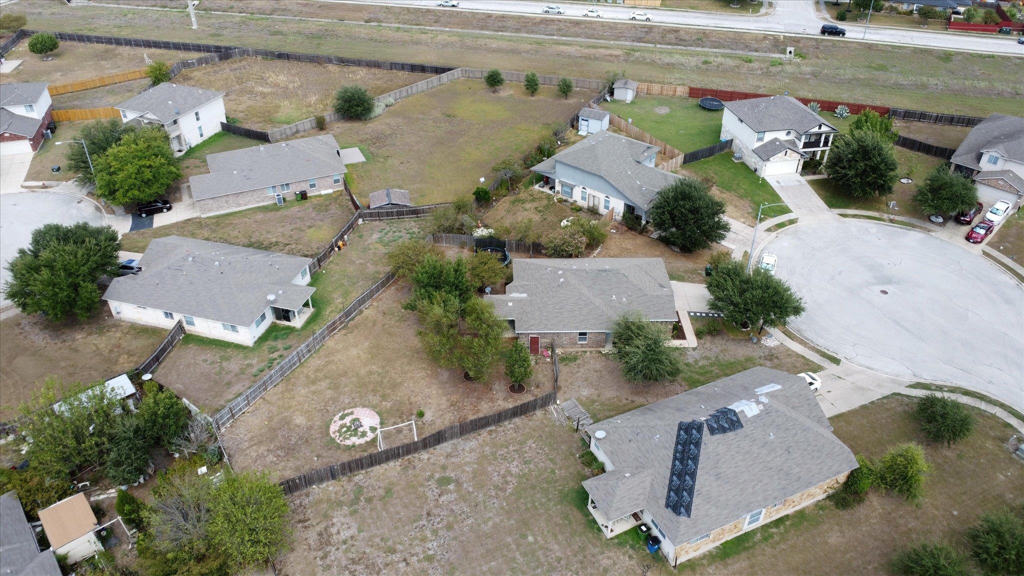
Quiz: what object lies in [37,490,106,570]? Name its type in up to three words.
shed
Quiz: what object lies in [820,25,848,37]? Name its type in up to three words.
vehicle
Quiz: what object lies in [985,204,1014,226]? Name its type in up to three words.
car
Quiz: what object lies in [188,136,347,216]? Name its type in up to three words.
house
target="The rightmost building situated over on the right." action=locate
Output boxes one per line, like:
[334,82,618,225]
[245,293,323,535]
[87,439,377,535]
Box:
[950,113,1024,211]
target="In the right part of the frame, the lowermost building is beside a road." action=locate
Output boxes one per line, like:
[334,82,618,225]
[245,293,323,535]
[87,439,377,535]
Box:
[577,367,852,563]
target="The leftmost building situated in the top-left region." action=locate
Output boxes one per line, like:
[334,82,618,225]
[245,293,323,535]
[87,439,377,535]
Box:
[0,83,55,156]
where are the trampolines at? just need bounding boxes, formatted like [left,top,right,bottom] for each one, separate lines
[699,99,723,113]
[473,233,511,265]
